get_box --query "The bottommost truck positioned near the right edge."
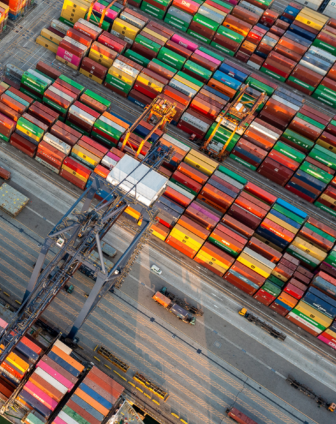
[288,376,335,410]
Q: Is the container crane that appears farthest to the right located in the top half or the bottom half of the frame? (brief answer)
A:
top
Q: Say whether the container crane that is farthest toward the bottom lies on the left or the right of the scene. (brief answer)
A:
left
